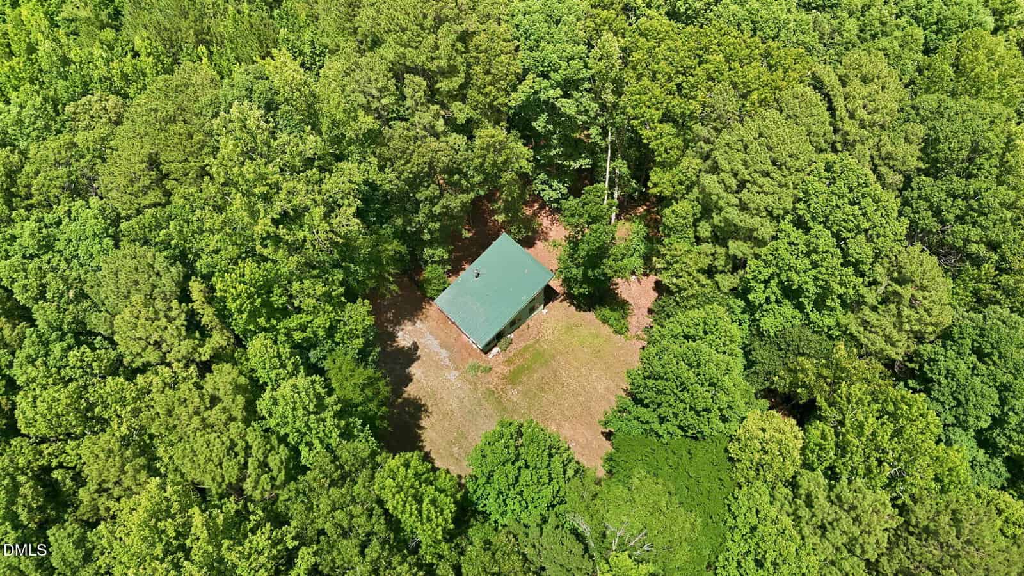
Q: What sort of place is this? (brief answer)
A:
forest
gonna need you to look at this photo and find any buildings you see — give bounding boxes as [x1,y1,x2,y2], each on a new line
[435,231,555,355]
